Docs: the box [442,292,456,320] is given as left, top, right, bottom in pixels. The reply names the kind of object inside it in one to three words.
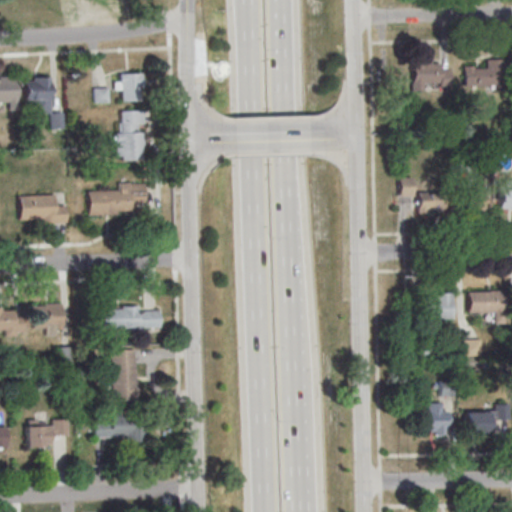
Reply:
building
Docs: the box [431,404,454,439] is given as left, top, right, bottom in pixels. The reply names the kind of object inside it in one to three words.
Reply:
house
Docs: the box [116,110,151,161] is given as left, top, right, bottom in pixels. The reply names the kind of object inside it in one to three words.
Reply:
house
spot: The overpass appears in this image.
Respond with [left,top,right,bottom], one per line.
[196,74,351,212]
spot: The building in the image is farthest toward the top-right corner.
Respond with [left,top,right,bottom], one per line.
[466,59,504,92]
